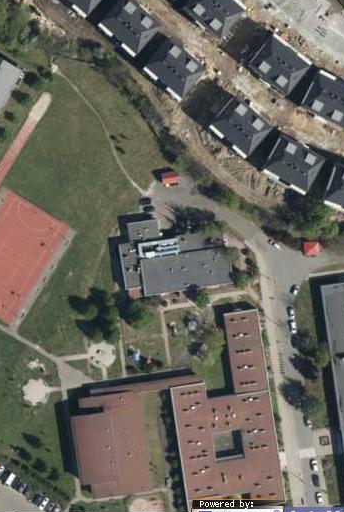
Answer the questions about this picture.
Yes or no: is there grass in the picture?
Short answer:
Yes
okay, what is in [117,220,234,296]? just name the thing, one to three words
building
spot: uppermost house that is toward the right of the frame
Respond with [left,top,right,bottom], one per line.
[182,0,249,39]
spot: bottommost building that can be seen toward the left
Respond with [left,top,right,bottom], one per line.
[69,392,152,498]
